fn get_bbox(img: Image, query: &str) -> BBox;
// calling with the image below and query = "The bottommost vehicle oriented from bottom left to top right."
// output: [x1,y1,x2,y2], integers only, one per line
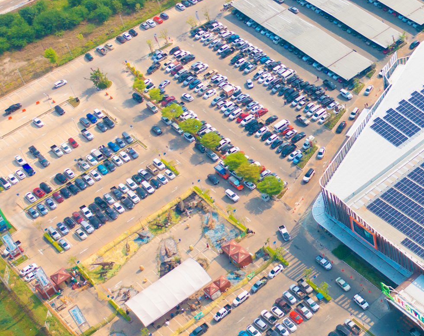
[188,322,210,336]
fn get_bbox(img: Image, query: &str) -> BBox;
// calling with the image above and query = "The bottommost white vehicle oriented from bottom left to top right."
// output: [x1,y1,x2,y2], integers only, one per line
[212,304,234,322]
